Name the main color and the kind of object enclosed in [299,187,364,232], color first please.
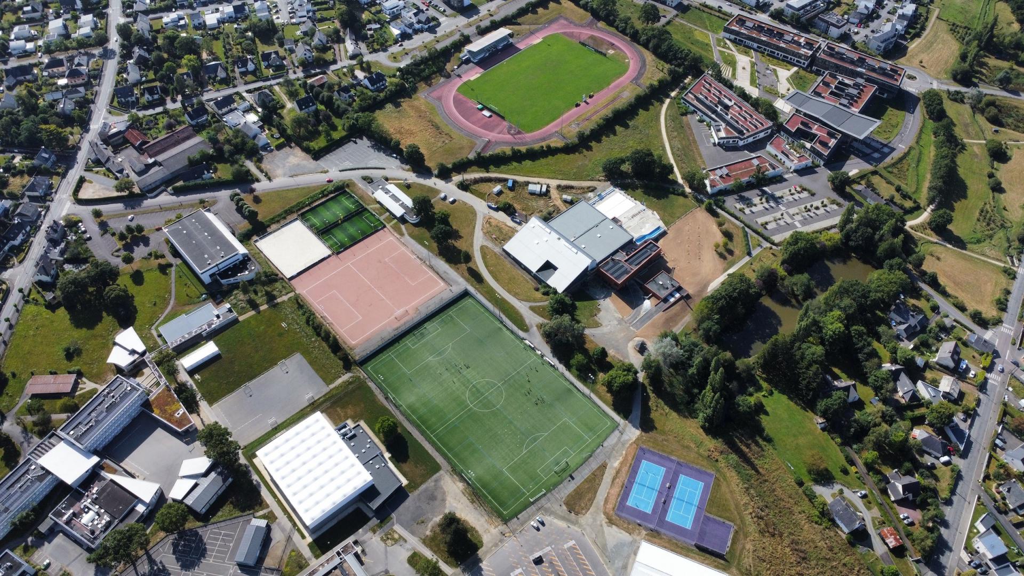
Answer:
green sports field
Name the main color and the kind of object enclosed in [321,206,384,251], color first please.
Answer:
green sports field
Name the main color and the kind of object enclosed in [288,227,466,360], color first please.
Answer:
pink soccer field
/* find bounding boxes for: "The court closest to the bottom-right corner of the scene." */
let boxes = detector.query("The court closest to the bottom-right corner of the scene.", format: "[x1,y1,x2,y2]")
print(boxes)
[615,446,733,551]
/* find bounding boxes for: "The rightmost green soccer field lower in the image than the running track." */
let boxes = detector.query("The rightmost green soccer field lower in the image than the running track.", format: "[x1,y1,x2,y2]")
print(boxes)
[361,296,617,520]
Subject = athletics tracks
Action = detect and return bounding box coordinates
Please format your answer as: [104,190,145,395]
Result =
[419,15,647,153]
